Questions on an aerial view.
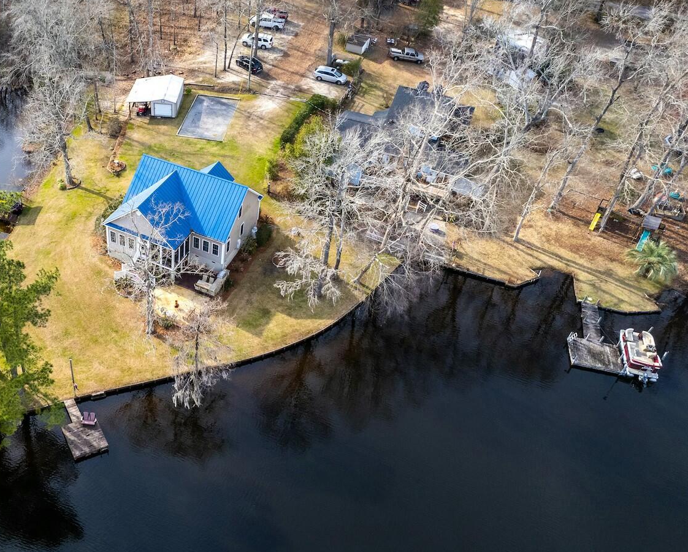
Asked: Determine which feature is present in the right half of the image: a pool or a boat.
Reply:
boat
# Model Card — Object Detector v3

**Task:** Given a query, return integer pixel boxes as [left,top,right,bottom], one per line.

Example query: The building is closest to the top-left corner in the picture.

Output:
[130,71,184,119]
